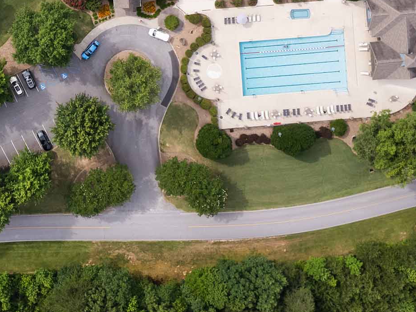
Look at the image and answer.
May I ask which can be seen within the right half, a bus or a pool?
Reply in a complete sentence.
The feature located within the right half is a pool.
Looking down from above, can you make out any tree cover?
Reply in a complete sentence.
Yes, there is tree cover in the image.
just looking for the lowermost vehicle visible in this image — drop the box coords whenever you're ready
[38,131,53,152]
